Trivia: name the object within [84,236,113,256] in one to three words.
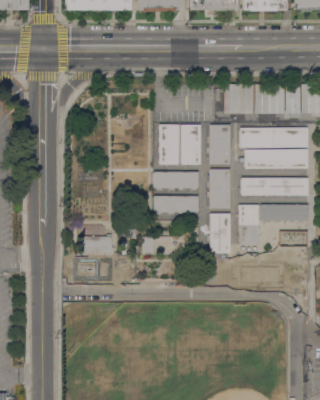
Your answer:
building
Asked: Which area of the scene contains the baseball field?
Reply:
bottom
